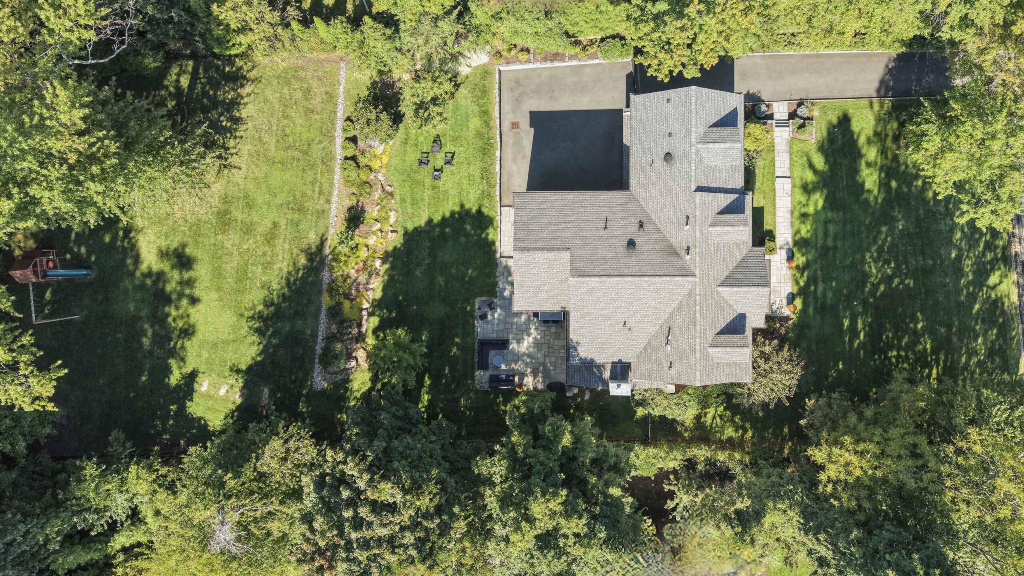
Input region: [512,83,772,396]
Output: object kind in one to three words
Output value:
house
